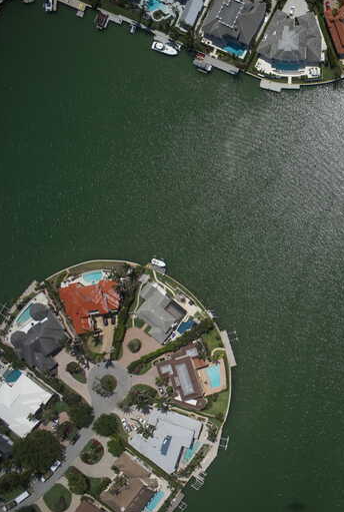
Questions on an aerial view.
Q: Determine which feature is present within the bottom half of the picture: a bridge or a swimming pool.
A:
swimming pool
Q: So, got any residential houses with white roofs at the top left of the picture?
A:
No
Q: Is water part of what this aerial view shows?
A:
Yes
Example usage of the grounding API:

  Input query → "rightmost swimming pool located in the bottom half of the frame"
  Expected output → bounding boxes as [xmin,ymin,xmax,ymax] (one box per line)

[204,363,221,389]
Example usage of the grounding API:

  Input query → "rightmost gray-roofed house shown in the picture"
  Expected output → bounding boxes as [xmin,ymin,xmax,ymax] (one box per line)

[260,9,322,60]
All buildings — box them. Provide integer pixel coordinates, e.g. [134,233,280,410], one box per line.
[136,282,188,345]
[324,0,344,58]
[260,9,322,60]
[0,429,17,458]
[183,0,206,27]
[200,0,267,46]
[128,409,206,475]
[76,499,107,512]
[0,373,56,437]
[155,349,210,410]
[10,302,69,372]
[100,451,156,512]
[59,279,123,334]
